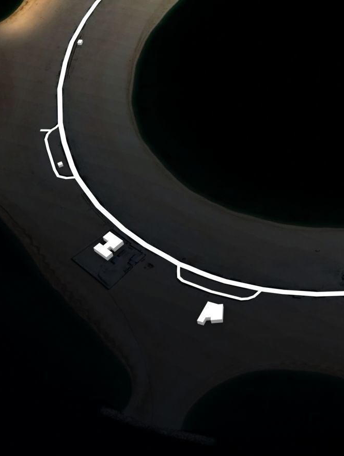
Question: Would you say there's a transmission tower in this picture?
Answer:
No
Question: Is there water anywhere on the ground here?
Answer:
Yes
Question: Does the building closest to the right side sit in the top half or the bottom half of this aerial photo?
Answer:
bottom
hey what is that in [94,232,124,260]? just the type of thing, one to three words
building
